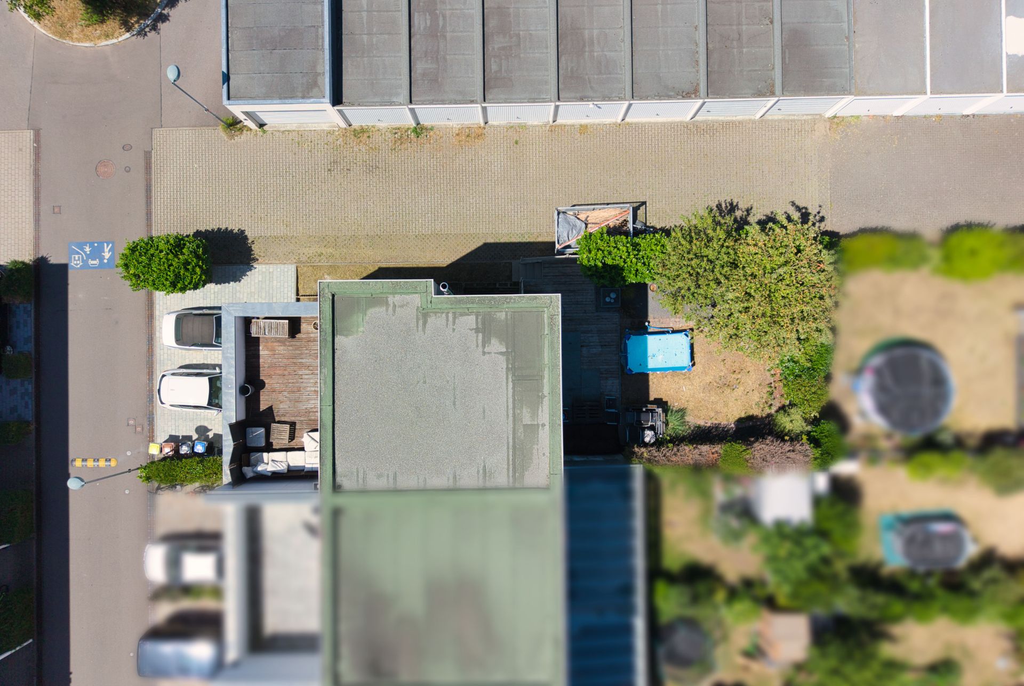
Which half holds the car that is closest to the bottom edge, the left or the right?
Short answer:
left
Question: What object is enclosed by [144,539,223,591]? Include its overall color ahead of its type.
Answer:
white car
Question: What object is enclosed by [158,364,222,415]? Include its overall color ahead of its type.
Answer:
white car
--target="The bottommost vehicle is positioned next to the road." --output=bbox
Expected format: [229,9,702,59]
[130,628,223,686]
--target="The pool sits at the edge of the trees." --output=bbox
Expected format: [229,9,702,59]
[619,326,694,376]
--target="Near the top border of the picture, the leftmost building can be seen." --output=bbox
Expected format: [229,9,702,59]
[223,0,353,133]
